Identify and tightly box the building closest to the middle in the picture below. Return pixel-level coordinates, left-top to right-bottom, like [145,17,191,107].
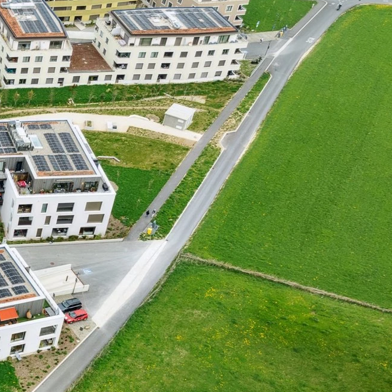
[162,103,197,131]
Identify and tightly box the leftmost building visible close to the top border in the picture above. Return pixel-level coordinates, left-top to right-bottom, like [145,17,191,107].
[0,0,72,89]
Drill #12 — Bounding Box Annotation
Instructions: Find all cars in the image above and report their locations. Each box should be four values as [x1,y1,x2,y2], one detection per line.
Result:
[64,307,91,323]
[56,294,85,313]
